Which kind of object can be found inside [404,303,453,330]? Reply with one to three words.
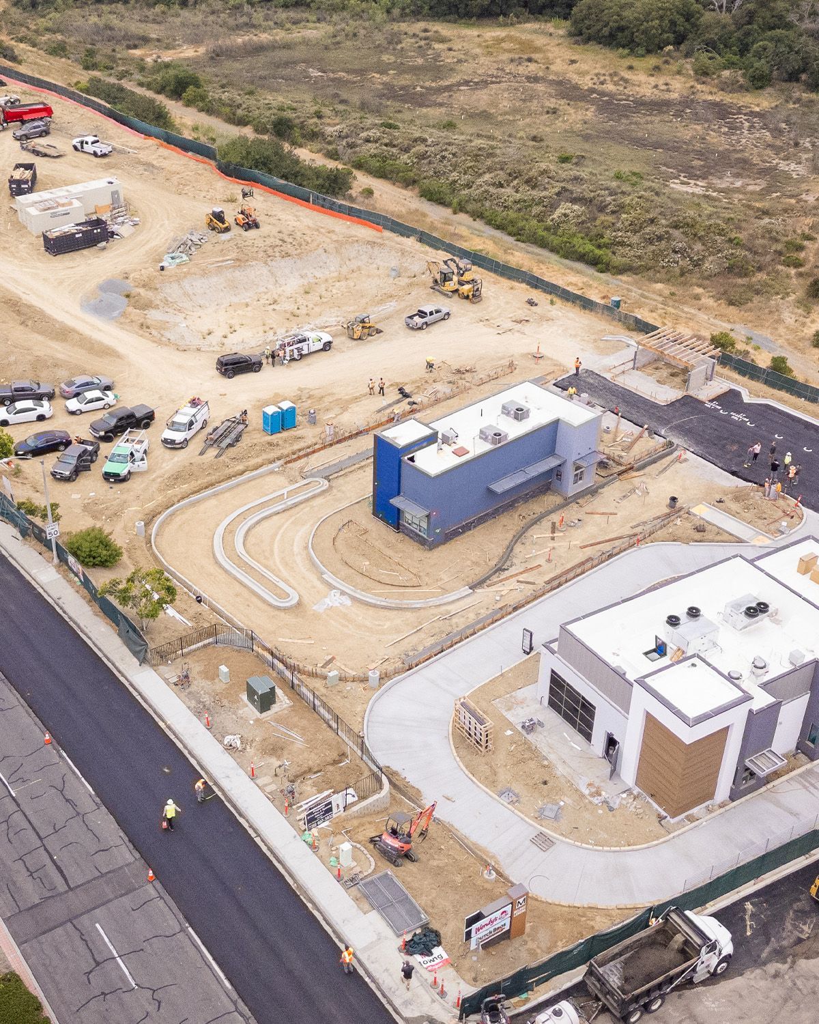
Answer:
truck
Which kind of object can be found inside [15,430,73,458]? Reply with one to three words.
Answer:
car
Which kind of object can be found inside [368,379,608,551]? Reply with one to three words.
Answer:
building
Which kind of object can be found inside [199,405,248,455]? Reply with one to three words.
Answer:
trailer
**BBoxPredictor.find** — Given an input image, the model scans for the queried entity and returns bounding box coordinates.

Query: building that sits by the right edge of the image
[535,533,819,821]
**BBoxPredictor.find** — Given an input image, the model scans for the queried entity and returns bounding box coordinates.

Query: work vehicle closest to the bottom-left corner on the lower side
[367,795,436,867]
